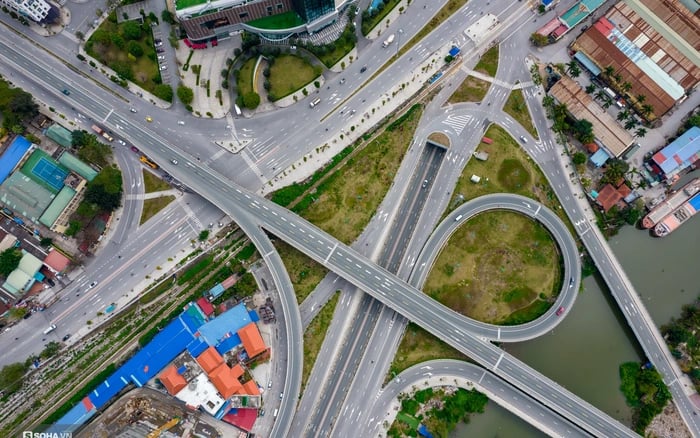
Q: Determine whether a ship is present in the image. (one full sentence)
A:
Yes, a ship appears in the view.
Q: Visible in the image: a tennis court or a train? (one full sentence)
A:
There is a tennis court in the scene.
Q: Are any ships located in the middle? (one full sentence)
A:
No, no ship is visible in the middle.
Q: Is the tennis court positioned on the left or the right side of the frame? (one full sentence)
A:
The tennis court appears in the left half of the scene.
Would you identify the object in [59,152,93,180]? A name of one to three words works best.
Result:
shed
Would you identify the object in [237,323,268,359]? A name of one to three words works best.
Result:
house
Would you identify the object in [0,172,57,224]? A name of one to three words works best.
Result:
building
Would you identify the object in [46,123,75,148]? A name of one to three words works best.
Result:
shed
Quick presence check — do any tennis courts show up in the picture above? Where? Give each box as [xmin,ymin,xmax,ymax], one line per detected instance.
[20,149,70,195]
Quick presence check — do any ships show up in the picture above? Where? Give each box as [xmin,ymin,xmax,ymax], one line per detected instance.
[654,192,700,237]
[643,179,700,228]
